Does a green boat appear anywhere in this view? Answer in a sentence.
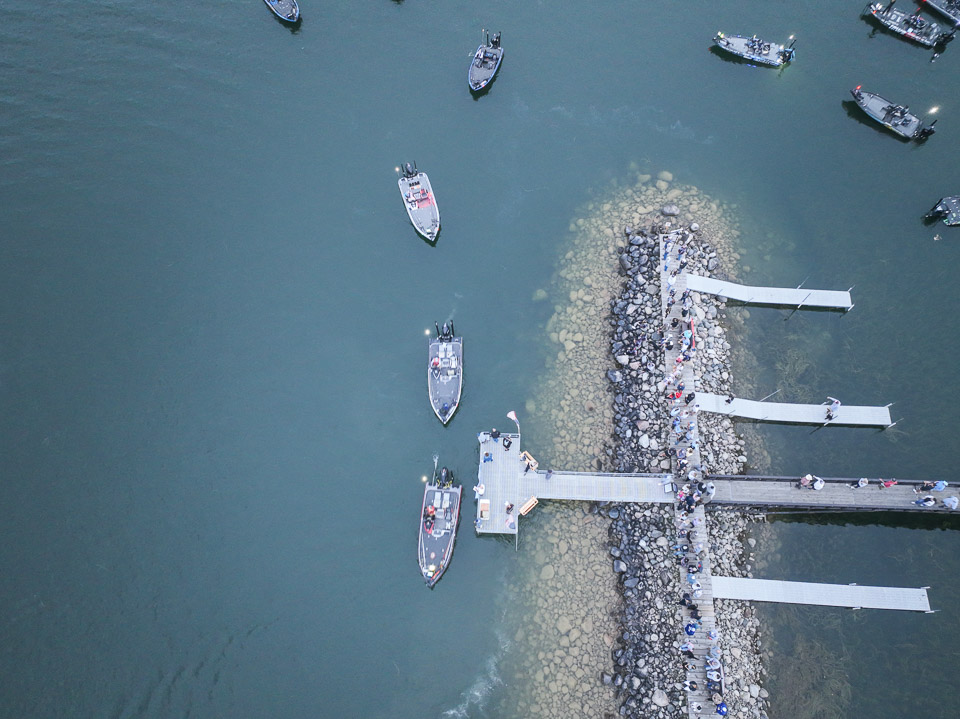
No, the scene contains no green boat.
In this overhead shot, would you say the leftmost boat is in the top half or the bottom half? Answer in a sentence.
The leftmost boat sits in the top half of the picture.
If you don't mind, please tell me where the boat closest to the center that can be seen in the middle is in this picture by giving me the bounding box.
[428,322,462,424]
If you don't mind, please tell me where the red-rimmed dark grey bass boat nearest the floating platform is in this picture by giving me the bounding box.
[420,469,460,587]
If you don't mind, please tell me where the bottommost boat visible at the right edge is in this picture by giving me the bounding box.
[926,191,960,224]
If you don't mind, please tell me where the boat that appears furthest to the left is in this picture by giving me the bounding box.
[263,0,300,25]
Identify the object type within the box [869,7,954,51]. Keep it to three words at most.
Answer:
boat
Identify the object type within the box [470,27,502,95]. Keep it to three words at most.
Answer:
boat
